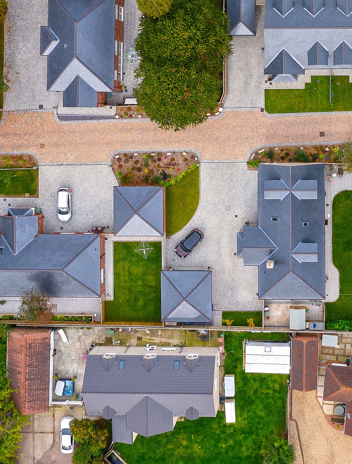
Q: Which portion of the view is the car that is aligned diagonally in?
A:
center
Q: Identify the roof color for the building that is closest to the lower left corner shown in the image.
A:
red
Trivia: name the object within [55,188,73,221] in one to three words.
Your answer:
car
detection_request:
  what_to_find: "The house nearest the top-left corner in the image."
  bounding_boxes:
[39,0,125,108]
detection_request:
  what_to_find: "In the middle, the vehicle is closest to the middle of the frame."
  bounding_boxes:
[177,227,203,260]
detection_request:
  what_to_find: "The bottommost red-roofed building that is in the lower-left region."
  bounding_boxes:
[7,327,55,414]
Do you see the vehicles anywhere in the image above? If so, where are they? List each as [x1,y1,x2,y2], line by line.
[55,188,73,221]
[58,415,76,454]
[177,227,203,260]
